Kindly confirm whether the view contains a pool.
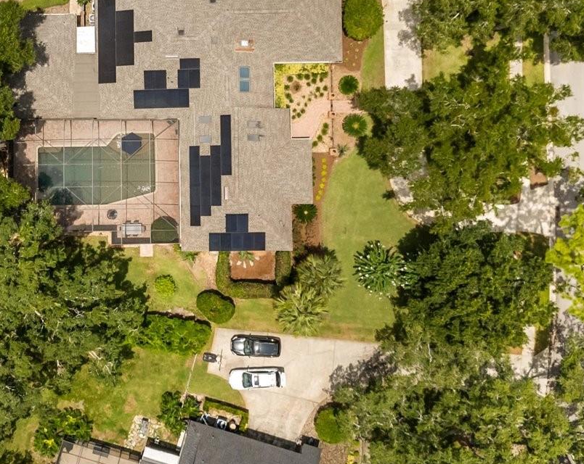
Yes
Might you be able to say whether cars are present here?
Yes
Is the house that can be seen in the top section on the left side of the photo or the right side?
left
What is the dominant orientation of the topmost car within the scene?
from left to right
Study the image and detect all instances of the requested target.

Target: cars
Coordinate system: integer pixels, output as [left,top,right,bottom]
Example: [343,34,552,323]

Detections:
[231,335,281,358]
[231,368,283,391]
